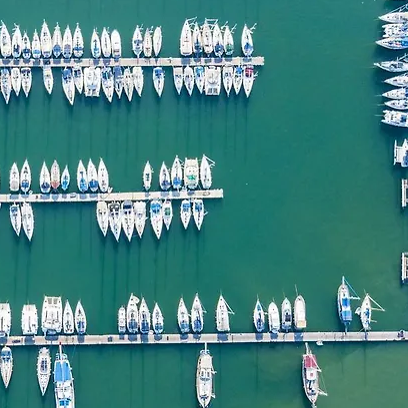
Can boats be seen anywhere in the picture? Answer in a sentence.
Yes, the photo shows a boat.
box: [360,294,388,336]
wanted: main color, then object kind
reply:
white boat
